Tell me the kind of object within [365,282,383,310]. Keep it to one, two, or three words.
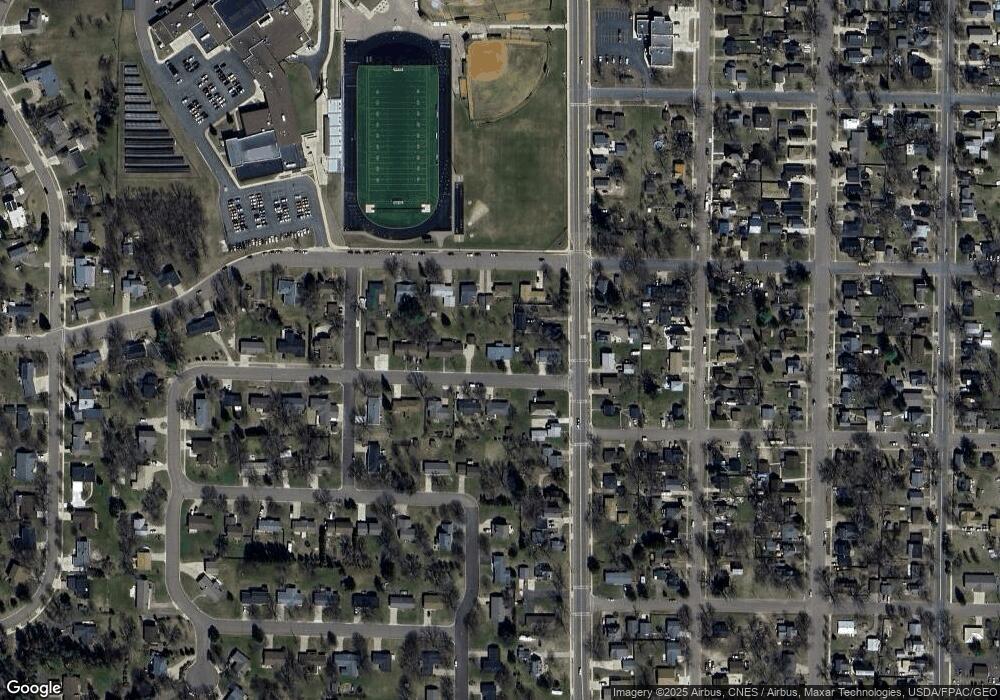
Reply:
house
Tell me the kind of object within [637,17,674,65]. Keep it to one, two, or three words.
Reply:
building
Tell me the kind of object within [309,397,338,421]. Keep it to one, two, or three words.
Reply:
house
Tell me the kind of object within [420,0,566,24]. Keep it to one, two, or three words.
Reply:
baseball field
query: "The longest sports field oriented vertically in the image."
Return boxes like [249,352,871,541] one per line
[357,65,438,229]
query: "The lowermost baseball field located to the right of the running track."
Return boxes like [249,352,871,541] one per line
[461,38,549,121]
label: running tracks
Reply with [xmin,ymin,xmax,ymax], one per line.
[344,31,452,239]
